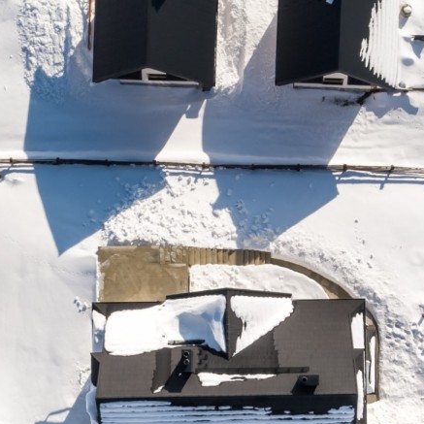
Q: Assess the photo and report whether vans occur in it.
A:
No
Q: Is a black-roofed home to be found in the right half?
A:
Yes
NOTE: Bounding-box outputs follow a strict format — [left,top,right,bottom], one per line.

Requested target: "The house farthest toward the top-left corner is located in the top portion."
[93,0,216,92]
